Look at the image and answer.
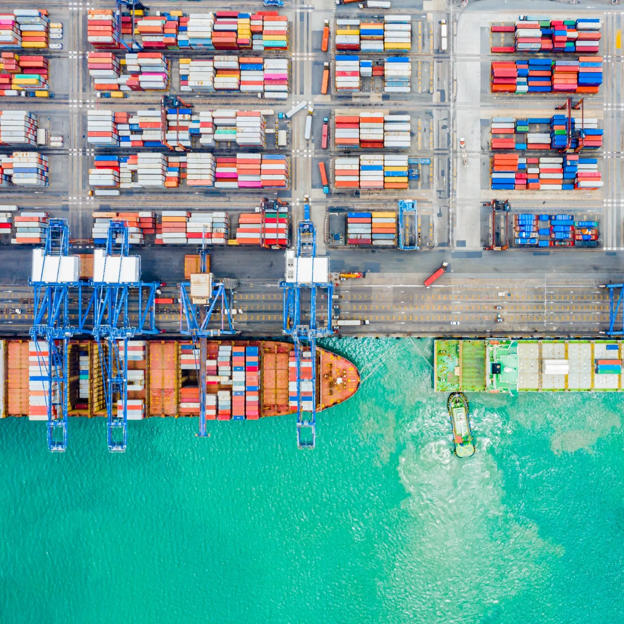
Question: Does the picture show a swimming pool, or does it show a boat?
boat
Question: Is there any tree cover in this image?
No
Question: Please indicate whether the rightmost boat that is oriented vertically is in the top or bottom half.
bottom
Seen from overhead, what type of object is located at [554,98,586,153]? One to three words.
container crane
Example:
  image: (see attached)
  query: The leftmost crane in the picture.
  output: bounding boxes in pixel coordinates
[30,216,106,450]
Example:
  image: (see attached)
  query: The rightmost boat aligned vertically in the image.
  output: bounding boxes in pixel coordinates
[448,392,475,457]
